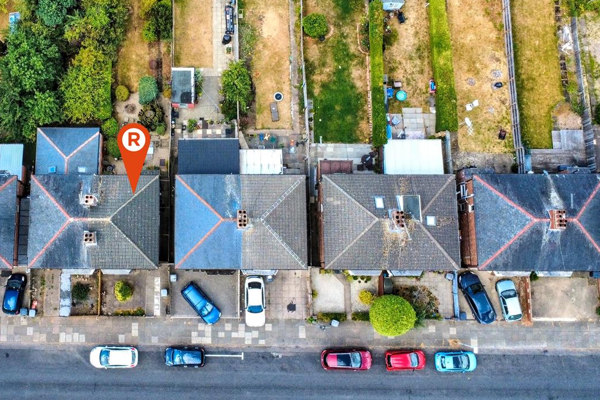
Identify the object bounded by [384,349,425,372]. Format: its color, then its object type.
red car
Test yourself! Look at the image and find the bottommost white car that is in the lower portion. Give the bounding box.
[90,344,139,370]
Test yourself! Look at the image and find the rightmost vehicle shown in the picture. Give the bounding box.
[493,278,523,323]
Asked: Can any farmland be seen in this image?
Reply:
No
